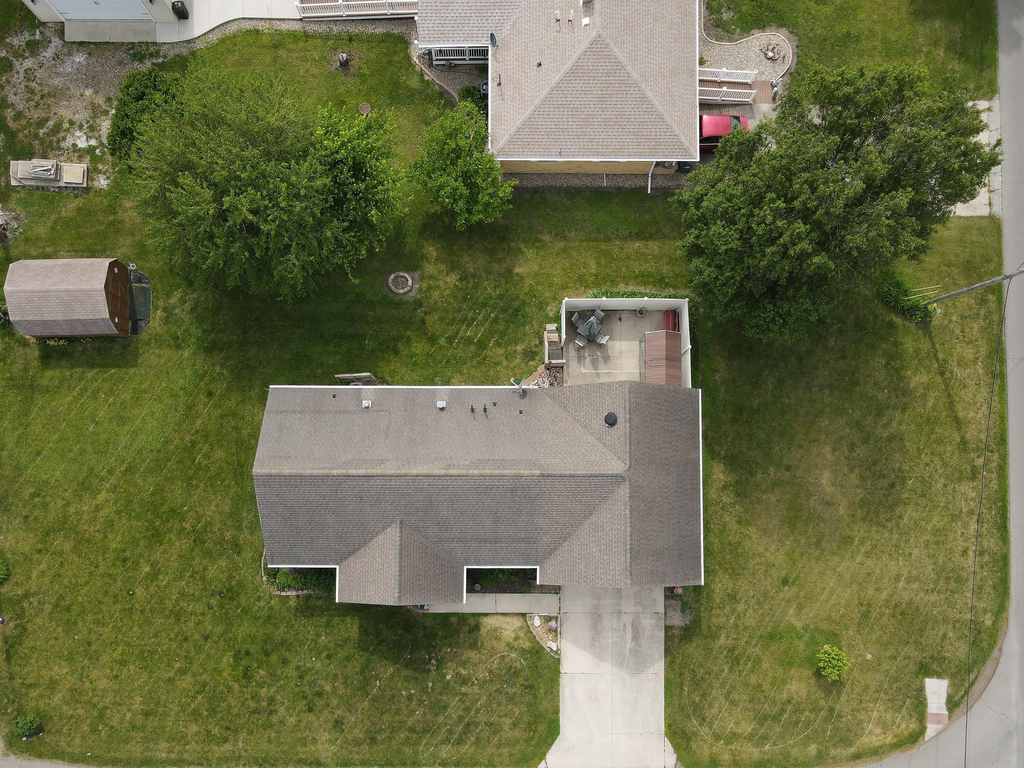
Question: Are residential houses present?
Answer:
Yes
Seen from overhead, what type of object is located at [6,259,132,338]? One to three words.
shed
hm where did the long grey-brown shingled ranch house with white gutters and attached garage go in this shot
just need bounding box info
[253,382,705,605]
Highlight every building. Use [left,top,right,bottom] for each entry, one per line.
[22,0,178,24]
[6,259,132,338]
[417,0,702,193]
[253,382,705,605]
